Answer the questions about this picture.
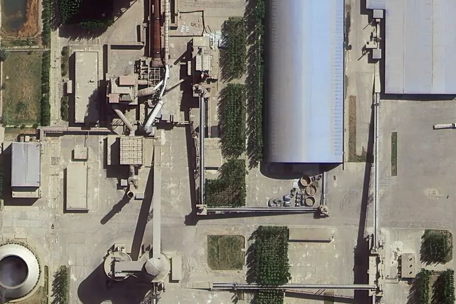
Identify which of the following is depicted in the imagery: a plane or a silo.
silo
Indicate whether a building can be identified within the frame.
Yes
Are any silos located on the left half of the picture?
Yes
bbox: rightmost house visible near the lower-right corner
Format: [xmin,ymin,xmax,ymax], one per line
[402,254,416,278]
